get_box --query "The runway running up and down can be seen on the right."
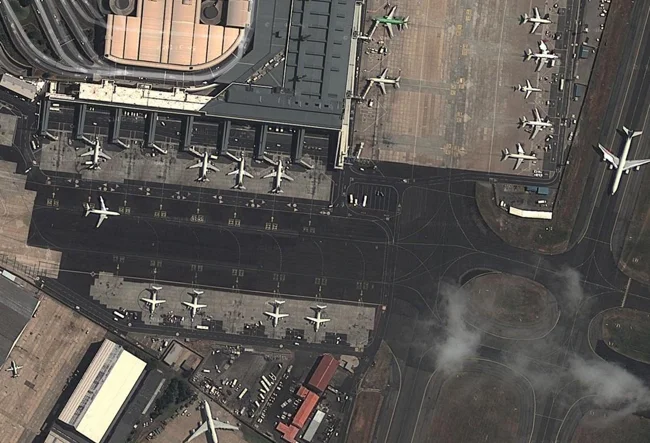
[571,0,650,261]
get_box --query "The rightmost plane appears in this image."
[597,129,650,195]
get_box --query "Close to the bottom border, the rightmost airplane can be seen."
[189,400,240,443]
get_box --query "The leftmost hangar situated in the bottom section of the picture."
[0,274,39,369]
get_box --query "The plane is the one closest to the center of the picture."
[263,161,292,192]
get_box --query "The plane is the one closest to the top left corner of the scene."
[80,136,112,169]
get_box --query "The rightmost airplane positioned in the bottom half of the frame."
[307,304,331,332]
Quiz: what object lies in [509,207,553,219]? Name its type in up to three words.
shed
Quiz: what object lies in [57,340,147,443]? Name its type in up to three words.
hangar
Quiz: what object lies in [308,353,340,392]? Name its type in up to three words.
building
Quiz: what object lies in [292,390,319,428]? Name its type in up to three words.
building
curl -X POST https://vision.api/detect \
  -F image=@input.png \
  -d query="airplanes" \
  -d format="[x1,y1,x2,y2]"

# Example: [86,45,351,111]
[525,40,560,70]
[80,136,112,169]
[597,129,650,195]
[189,400,240,443]
[514,79,543,100]
[373,6,409,36]
[501,142,536,168]
[519,108,553,139]
[86,196,120,228]
[226,157,254,189]
[265,300,290,327]
[142,286,167,314]
[263,161,292,192]
[307,304,331,332]
[368,67,400,93]
[189,152,220,181]
[184,289,209,317]
[521,7,552,33]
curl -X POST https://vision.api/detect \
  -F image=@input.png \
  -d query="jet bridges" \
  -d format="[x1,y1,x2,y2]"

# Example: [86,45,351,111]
[361,80,373,100]
[116,139,133,150]
[368,22,379,40]
[187,147,204,157]
[299,159,315,169]
[262,157,279,167]
[357,141,365,159]
[43,131,59,141]
[80,135,96,145]
[224,151,241,162]
[150,142,168,153]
